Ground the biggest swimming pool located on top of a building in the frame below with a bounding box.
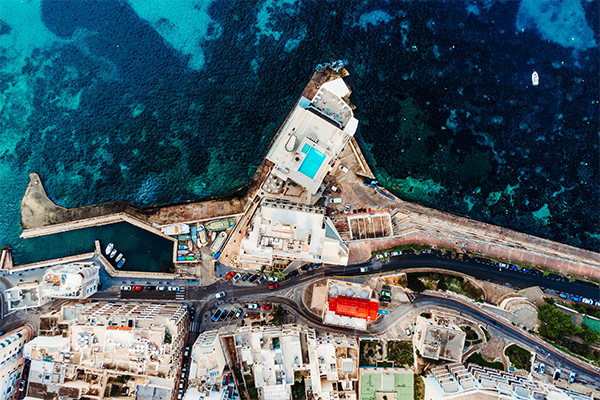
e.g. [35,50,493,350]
[297,145,328,180]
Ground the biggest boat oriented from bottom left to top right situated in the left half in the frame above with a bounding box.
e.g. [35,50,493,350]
[210,232,225,255]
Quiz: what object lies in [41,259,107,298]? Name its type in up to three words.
house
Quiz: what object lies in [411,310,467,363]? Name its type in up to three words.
house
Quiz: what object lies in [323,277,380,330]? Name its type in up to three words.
building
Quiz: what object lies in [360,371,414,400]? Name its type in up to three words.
sports court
